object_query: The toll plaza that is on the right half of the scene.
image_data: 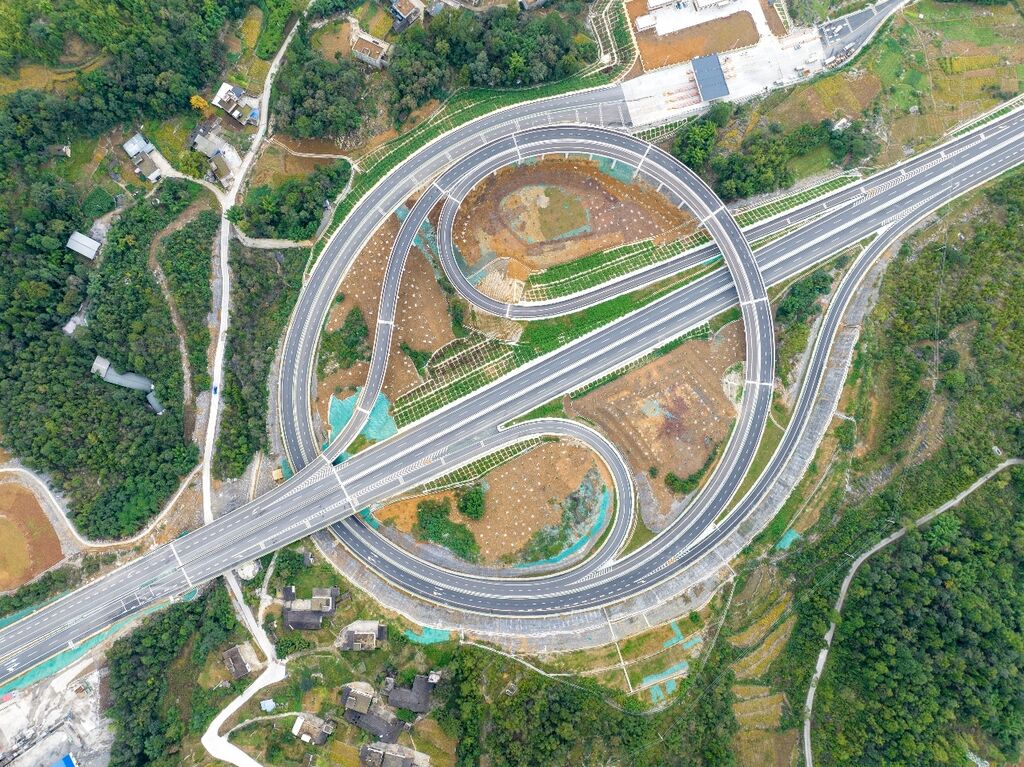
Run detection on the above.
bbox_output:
[624,26,825,127]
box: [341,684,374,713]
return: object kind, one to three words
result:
house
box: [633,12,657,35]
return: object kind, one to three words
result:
building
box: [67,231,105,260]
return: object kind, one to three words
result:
shed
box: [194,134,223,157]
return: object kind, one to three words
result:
house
